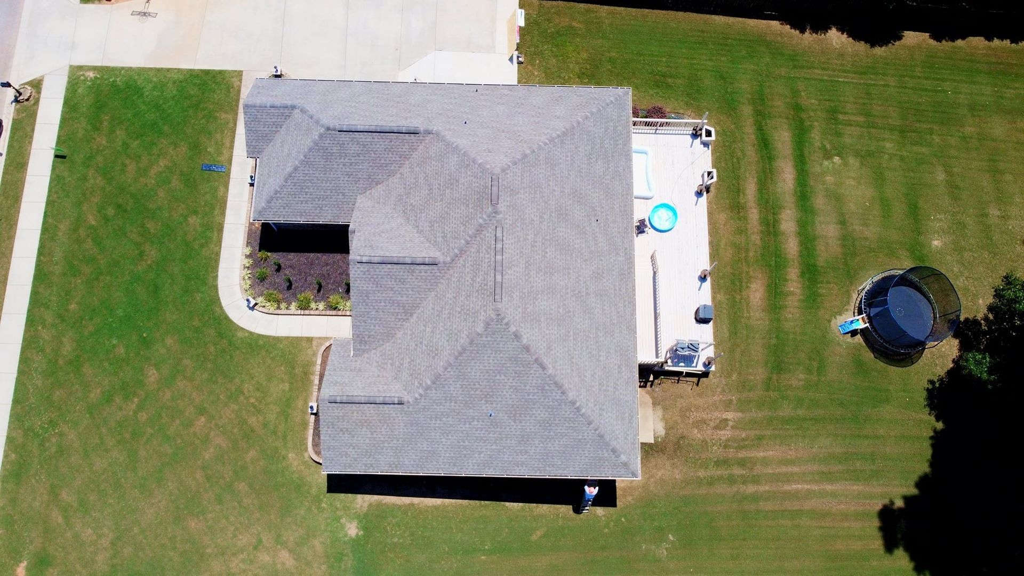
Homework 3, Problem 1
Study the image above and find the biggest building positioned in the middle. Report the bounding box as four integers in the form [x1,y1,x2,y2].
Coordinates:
[240,77,642,483]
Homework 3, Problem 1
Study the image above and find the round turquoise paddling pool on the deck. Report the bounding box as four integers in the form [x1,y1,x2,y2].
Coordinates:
[649,203,678,232]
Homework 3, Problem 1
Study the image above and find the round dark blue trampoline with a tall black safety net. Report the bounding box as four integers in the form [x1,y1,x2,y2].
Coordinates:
[851,264,964,356]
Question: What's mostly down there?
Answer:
grass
